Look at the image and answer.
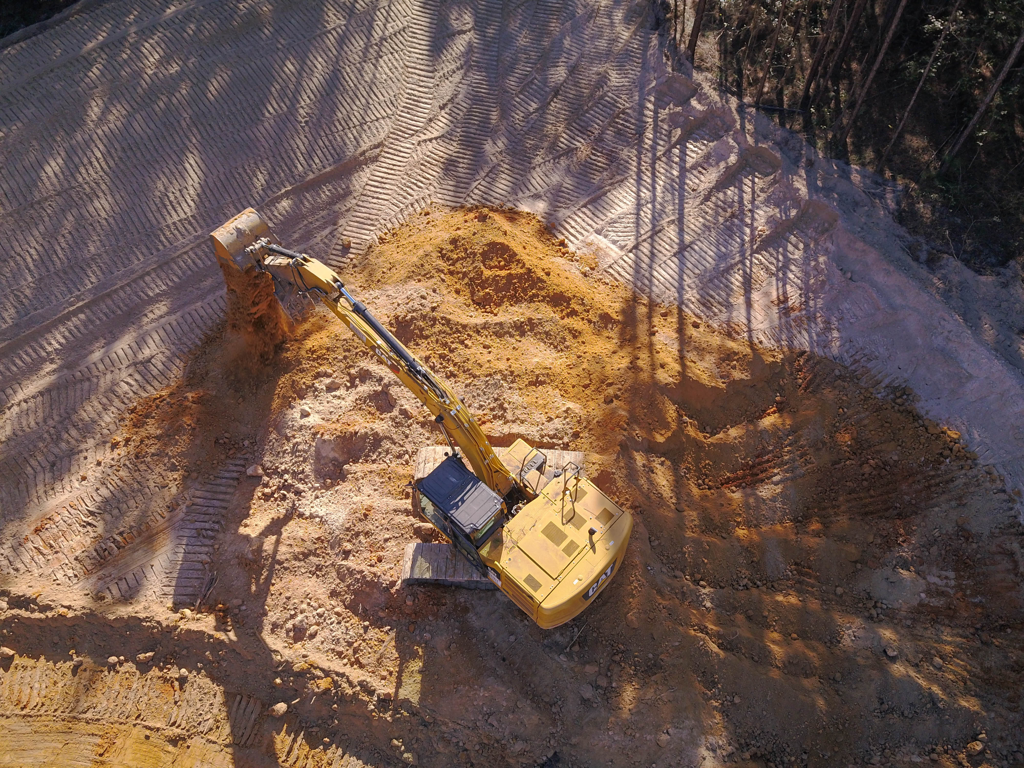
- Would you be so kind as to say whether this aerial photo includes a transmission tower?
No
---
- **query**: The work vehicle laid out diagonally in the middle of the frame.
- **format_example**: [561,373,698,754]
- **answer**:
[209,205,633,628]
